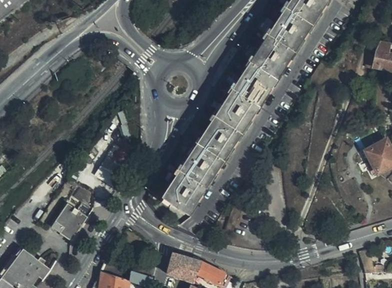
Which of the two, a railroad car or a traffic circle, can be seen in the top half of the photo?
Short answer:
traffic circle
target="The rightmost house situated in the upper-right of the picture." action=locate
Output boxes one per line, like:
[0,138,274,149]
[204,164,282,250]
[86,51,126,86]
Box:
[370,40,392,74]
